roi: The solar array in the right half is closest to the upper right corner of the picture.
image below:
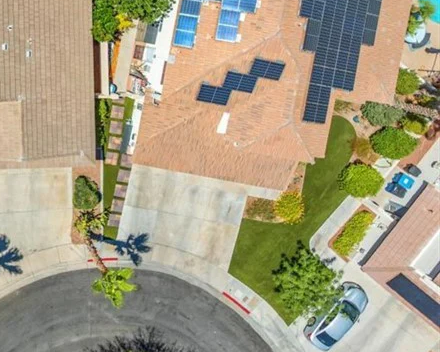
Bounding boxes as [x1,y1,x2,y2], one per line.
[299,0,385,123]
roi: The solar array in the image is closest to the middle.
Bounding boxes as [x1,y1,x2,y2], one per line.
[197,58,286,106]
